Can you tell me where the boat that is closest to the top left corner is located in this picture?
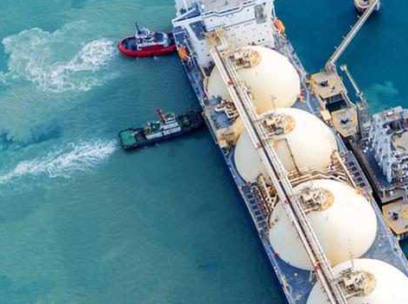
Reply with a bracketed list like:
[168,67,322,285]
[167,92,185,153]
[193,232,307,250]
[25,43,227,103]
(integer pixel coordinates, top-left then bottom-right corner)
[111,21,175,58]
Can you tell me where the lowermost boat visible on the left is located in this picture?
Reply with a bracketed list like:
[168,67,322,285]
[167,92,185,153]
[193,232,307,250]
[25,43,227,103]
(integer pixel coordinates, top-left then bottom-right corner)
[115,104,199,154]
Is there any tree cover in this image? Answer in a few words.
No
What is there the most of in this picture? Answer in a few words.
water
